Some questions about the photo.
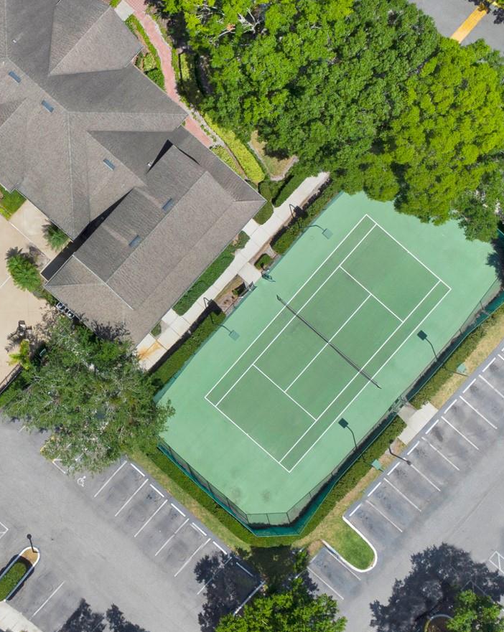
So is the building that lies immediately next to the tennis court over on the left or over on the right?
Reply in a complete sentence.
The building that lies immediately next to the tennis court sits on the left side.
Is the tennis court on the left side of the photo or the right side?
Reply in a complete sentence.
You can find the tennis court on the right side of the picture.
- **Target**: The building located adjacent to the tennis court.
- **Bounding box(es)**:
[0,0,267,356]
